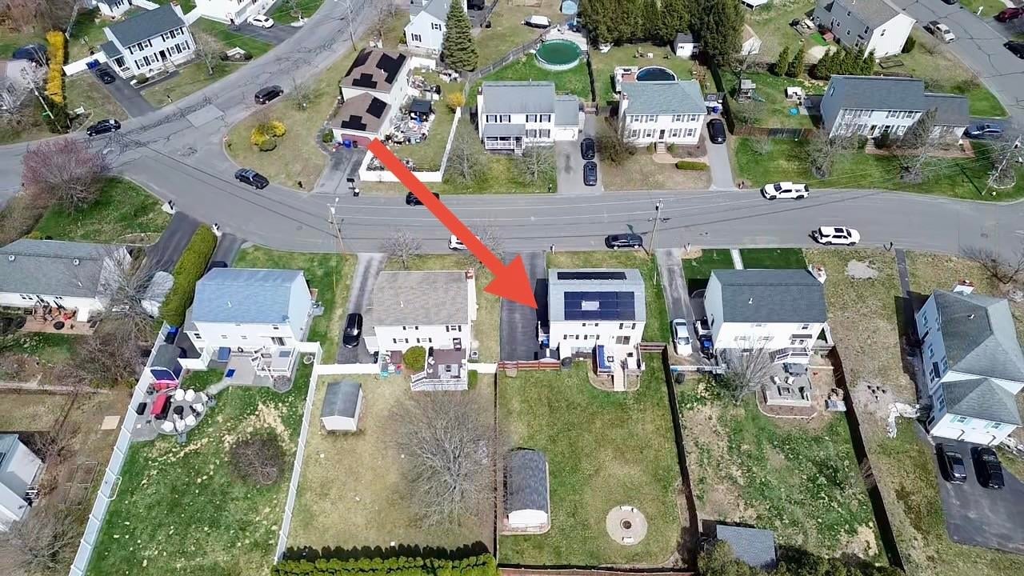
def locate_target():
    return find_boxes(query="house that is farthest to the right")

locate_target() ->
[912,288,1024,438]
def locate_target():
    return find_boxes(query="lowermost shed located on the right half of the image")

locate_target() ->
[717,527,783,576]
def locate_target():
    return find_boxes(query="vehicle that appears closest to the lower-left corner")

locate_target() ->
[340,309,365,349]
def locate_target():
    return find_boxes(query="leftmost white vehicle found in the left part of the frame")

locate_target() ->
[246,15,275,30]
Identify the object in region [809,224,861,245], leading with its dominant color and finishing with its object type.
white car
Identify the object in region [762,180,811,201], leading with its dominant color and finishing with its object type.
white truck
